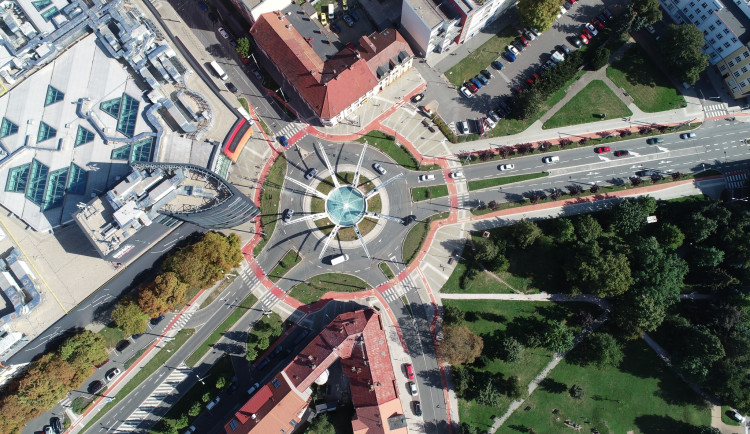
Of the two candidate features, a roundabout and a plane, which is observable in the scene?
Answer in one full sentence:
Of the two, only a roundabout appears.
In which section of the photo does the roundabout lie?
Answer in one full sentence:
The roundabout appears toward the center of the photo.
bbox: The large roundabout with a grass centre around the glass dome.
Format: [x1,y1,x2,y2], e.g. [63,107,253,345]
[286,149,406,267]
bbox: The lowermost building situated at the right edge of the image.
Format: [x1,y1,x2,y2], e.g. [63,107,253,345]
[711,40,750,111]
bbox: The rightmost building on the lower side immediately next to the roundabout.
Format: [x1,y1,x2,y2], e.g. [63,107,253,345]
[342,307,399,407]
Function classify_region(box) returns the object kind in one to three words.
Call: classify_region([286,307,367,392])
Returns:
house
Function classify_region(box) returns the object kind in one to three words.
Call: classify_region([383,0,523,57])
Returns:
building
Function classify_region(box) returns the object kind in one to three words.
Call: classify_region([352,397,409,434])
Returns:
house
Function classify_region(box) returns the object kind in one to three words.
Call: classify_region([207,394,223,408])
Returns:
vehicle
